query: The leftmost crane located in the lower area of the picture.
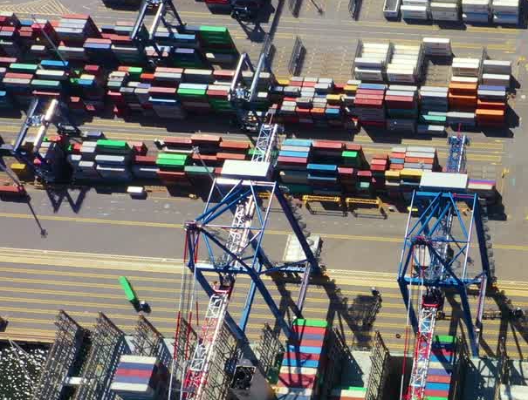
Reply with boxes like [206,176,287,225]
[165,122,322,400]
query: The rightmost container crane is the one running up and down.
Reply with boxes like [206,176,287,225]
[396,133,496,400]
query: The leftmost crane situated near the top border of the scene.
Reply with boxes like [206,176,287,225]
[130,0,184,82]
